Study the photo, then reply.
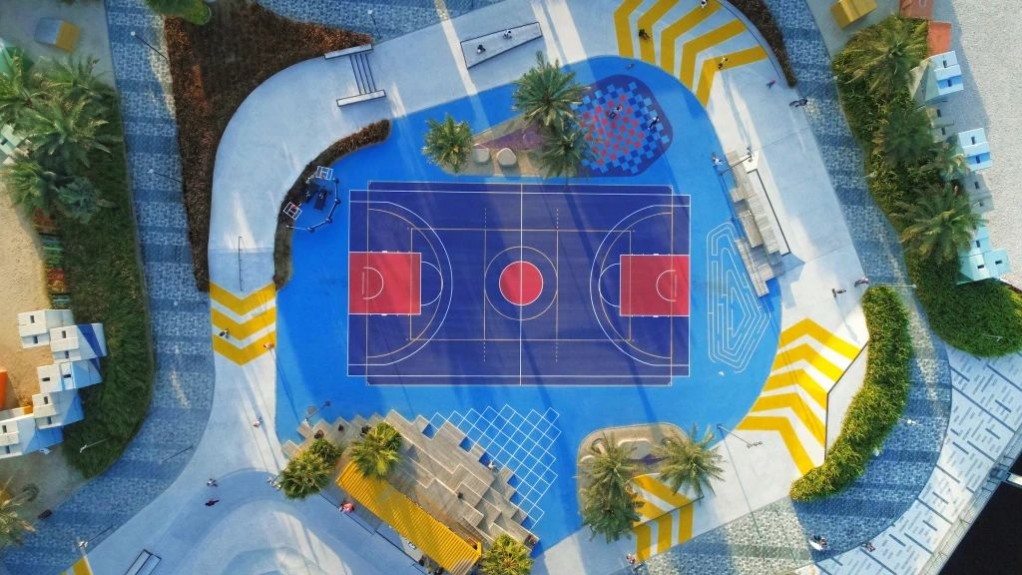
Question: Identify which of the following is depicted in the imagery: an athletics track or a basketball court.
basketball court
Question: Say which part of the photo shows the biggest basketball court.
center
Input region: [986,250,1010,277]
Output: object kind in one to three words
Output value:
shed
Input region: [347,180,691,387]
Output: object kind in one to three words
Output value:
basketball court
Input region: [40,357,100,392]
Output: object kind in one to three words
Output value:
shed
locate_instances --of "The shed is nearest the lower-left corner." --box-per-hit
[0,415,55,458]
